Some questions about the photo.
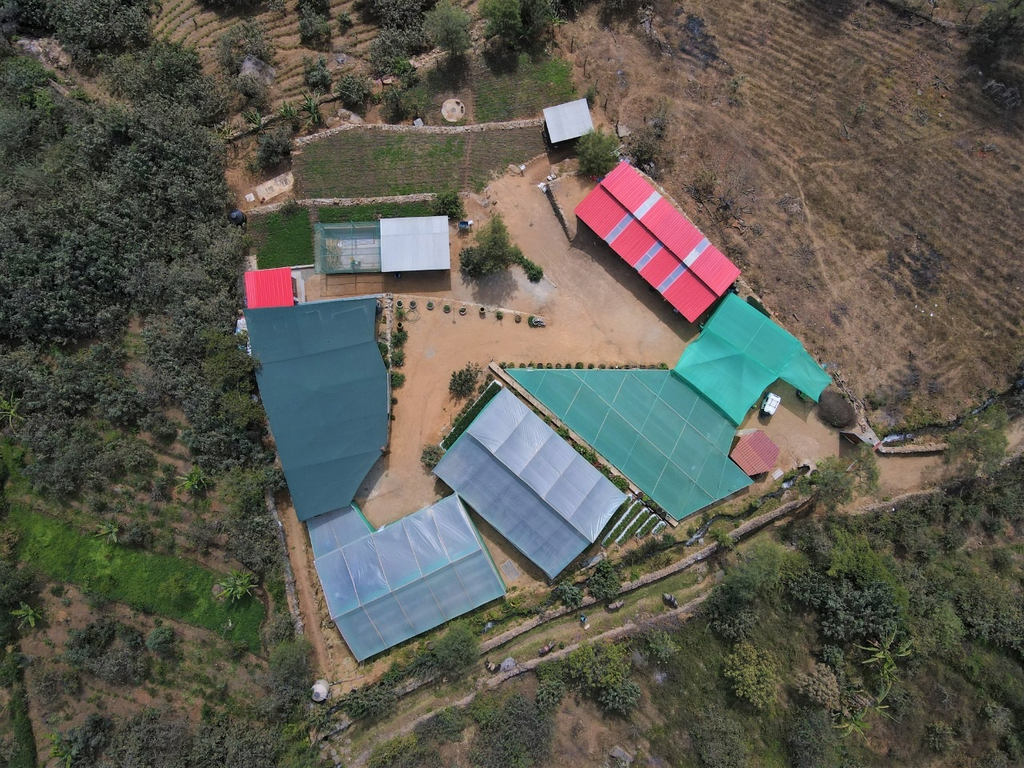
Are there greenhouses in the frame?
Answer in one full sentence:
Yes, there's a greenhouse here.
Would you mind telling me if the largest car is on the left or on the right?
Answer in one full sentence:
The largest car is on the right side of the image.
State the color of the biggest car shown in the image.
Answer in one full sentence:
The biggest car looks white in the image.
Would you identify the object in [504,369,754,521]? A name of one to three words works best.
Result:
house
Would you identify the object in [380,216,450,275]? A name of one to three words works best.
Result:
shed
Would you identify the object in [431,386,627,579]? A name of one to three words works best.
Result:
greenhouse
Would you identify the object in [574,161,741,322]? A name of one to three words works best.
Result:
barn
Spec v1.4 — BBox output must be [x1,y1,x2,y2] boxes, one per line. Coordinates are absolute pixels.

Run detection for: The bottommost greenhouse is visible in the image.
[307,490,506,662]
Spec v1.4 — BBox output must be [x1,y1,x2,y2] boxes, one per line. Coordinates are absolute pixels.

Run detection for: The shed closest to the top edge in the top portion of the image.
[543,98,594,152]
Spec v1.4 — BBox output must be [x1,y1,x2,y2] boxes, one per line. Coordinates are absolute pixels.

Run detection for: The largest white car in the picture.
[755,389,783,420]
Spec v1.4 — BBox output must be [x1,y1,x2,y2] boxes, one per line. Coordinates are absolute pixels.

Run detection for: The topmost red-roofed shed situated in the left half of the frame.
[245,268,299,309]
